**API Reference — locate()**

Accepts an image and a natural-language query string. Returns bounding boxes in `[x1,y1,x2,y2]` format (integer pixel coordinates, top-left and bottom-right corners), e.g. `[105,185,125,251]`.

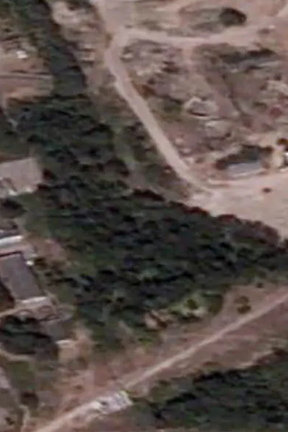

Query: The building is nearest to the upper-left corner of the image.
[0,157,41,199]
